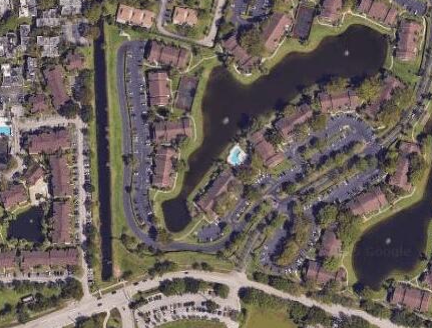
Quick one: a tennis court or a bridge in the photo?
tennis court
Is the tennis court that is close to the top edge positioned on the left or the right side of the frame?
right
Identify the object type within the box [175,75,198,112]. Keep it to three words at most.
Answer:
tennis court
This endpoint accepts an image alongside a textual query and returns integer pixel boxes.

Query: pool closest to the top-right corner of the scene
[228,145,246,165]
